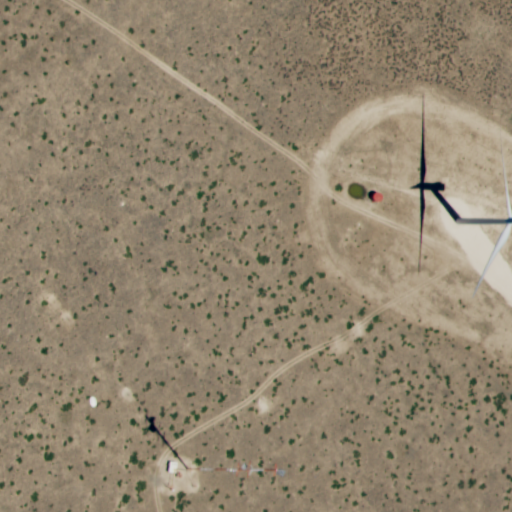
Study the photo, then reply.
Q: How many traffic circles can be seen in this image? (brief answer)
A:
none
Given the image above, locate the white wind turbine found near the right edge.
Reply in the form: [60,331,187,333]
[454,214,512,292]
